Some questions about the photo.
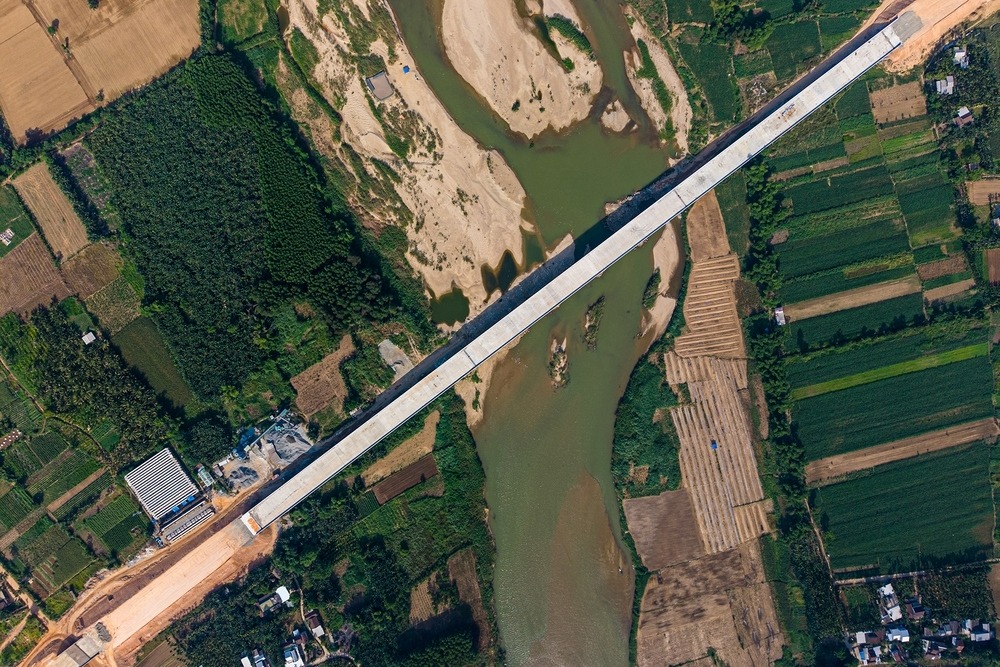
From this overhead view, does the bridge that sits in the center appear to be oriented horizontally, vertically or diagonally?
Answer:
diagonally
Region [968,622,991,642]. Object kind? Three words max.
house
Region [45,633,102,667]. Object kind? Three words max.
overpass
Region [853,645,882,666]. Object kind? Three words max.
house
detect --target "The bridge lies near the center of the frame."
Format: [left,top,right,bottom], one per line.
[236,14,910,537]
